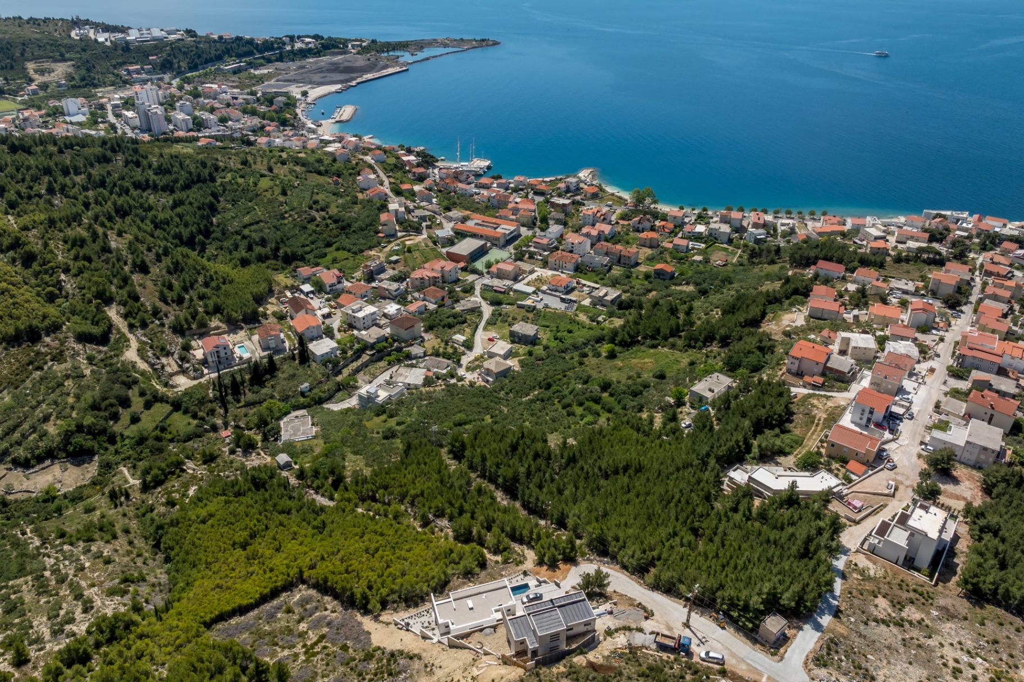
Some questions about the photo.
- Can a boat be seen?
Yes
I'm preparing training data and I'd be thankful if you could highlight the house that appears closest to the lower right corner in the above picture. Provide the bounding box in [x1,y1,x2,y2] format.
[863,502,959,562]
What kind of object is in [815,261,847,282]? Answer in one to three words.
house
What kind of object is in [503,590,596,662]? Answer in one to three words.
house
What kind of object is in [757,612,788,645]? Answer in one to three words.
shed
